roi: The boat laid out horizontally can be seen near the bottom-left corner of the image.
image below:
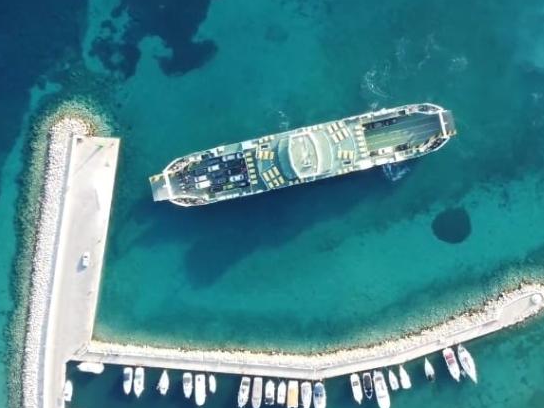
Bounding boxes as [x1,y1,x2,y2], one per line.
[78,361,105,373]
